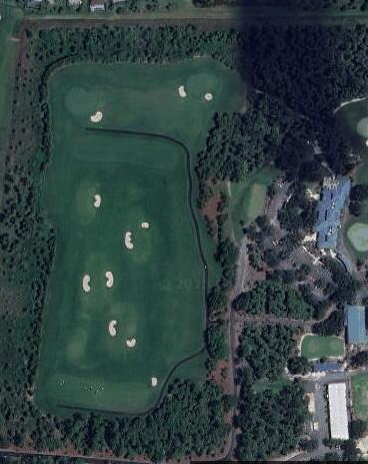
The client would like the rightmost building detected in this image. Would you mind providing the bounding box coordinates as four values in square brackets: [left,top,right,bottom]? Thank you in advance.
[346,306,368,342]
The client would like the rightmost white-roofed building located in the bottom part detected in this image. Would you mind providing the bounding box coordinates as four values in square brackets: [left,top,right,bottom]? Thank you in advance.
[328,381,349,439]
